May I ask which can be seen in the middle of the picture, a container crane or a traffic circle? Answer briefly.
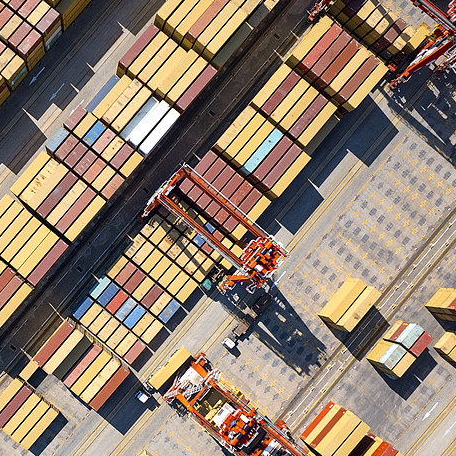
container crane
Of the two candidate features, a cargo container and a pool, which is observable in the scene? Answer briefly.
cargo container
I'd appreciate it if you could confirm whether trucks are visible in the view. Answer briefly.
Yes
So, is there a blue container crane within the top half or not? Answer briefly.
No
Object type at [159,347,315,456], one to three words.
container crane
